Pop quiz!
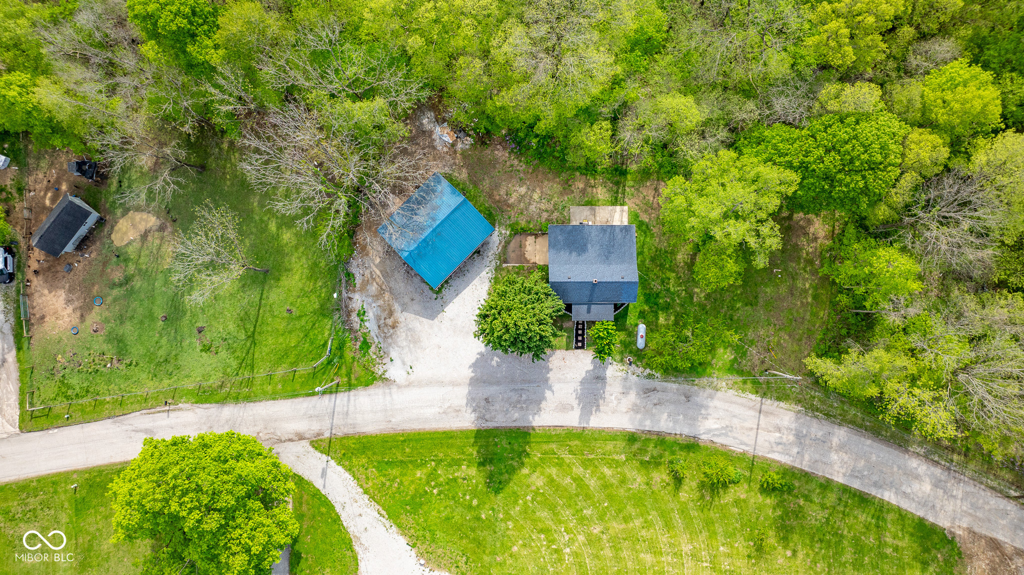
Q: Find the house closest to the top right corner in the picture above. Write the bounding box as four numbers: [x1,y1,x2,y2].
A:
[548,224,641,321]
